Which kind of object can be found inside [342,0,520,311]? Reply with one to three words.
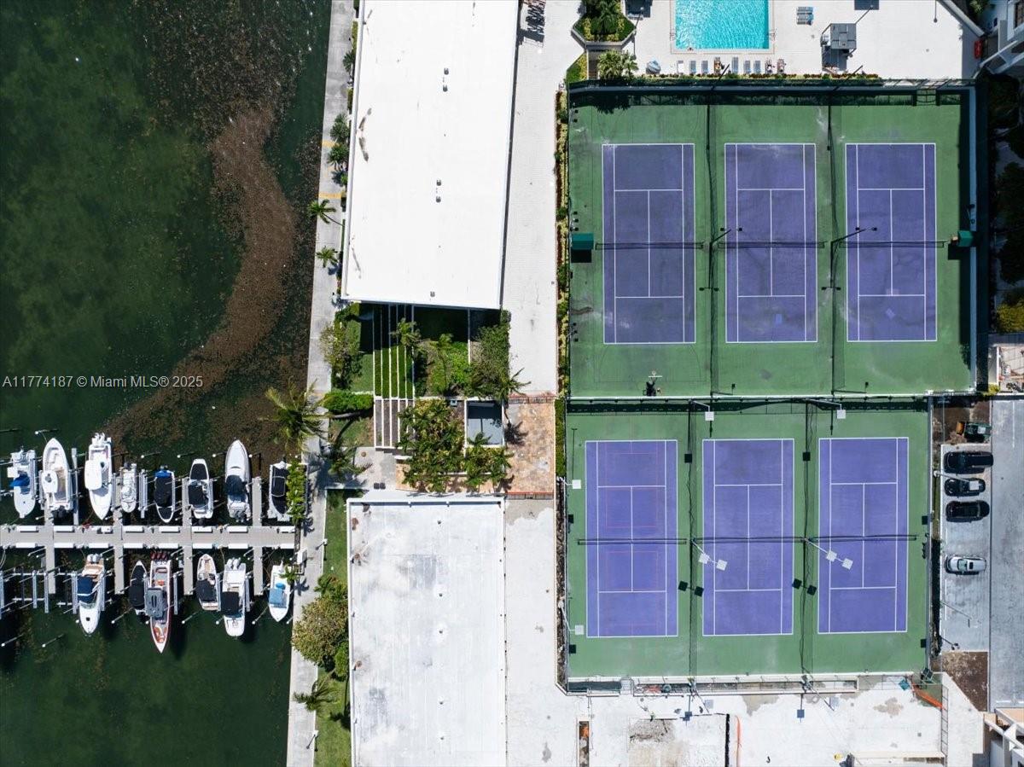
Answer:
building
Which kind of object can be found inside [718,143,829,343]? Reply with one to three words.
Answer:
tennis court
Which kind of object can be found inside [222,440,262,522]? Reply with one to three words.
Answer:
boat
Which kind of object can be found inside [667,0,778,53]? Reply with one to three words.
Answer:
swimming pool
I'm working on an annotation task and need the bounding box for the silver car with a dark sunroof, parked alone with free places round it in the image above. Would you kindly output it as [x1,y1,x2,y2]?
[943,556,987,575]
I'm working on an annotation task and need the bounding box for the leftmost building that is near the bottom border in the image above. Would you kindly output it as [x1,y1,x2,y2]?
[348,489,507,767]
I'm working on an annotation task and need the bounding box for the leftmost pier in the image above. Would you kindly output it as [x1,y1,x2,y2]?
[0,448,297,595]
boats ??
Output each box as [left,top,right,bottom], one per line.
[193,553,226,612]
[222,440,262,522]
[261,462,293,516]
[219,561,258,638]
[114,462,149,512]
[4,449,42,518]
[85,439,128,520]
[39,438,85,520]
[149,464,187,522]
[182,459,225,524]
[264,557,300,623]
[128,561,151,620]
[145,553,186,654]
[75,556,119,635]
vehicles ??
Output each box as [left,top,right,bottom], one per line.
[952,425,991,440]
[943,556,987,575]
[944,501,990,521]
[942,477,986,496]
[942,452,994,472]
